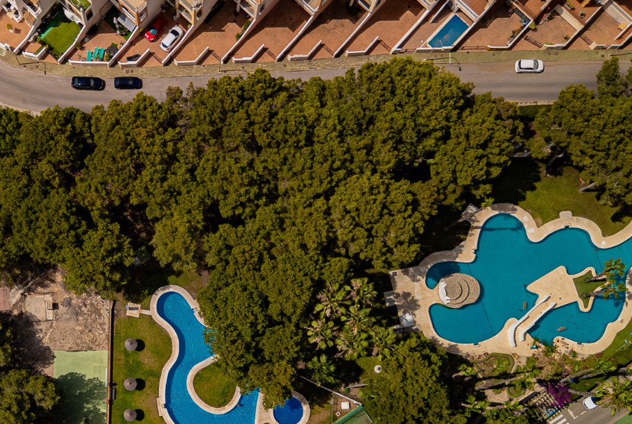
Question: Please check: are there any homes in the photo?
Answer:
Yes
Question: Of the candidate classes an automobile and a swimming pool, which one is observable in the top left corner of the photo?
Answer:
automobile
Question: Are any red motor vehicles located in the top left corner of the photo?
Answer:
Yes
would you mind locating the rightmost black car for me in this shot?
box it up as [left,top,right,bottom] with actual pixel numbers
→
[114,77,142,91]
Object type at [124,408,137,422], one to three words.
umbrella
